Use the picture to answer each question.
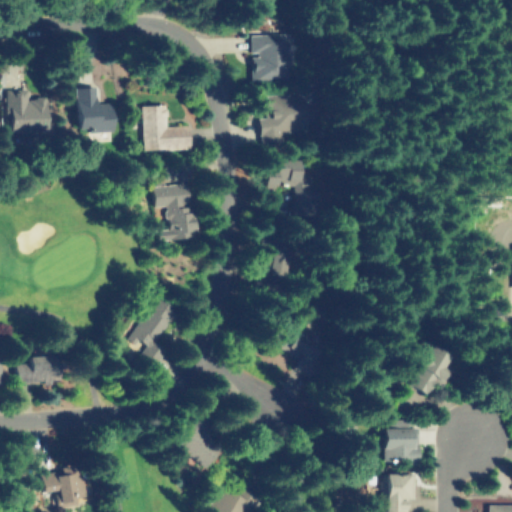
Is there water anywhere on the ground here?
No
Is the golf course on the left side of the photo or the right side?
left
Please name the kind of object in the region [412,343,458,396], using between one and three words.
house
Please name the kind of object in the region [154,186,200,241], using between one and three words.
house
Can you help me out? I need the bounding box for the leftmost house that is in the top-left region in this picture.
[8,90,52,132]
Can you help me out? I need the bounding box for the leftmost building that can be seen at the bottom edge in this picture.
[42,464,89,510]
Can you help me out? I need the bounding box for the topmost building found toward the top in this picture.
[249,35,284,82]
